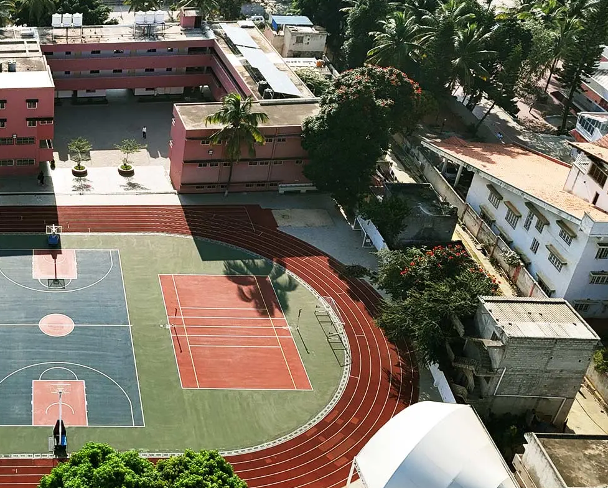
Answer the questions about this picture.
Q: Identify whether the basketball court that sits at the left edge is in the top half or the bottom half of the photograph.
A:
bottom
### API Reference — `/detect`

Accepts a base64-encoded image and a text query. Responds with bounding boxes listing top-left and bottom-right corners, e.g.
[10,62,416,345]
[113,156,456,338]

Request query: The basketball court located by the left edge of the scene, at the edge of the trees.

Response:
[0,249,145,426]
